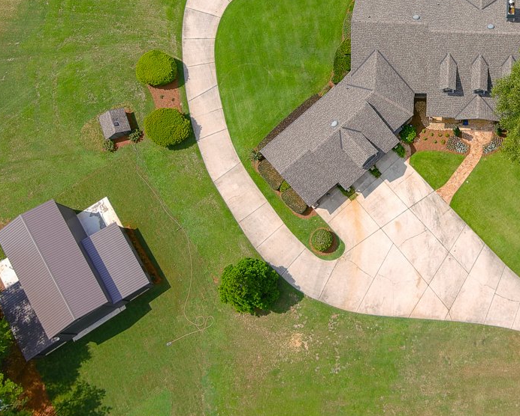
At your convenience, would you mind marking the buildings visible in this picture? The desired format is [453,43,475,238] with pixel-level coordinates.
[0,202,153,361]
[259,0,520,204]
[99,109,133,139]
